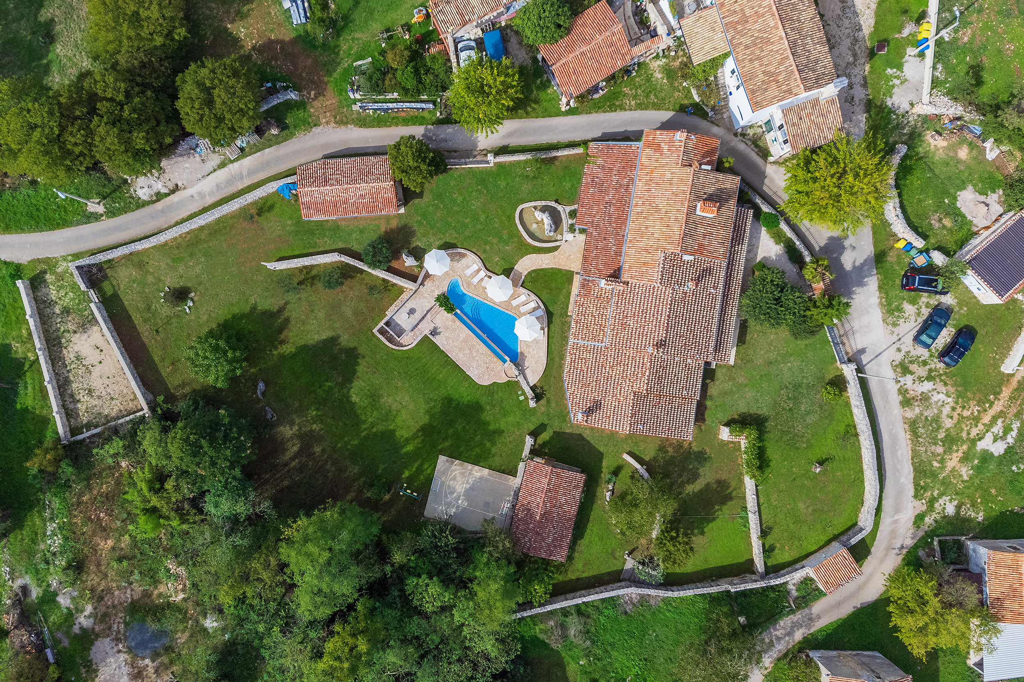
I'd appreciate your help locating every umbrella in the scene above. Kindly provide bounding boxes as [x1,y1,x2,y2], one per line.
[423,248,451,276]
[513,314,541,342]
[486,275,513,302]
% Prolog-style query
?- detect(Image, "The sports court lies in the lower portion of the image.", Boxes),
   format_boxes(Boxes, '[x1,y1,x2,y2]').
[424,455,515,531]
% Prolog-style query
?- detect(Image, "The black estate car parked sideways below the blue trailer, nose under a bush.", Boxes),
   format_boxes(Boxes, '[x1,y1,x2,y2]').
[898,272,947,295]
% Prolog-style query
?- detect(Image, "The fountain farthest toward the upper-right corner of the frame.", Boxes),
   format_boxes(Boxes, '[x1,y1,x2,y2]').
[532,210,555,234]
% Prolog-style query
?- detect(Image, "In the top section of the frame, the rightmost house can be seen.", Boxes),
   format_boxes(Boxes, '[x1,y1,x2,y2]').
[949,209,1024,304]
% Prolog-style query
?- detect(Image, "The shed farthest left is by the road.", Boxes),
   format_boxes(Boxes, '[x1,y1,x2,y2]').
[295,154,399,221]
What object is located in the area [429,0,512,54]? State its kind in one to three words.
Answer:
house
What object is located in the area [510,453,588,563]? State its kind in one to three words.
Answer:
shed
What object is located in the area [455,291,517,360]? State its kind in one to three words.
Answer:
swimming pool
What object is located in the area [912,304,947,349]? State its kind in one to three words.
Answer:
car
